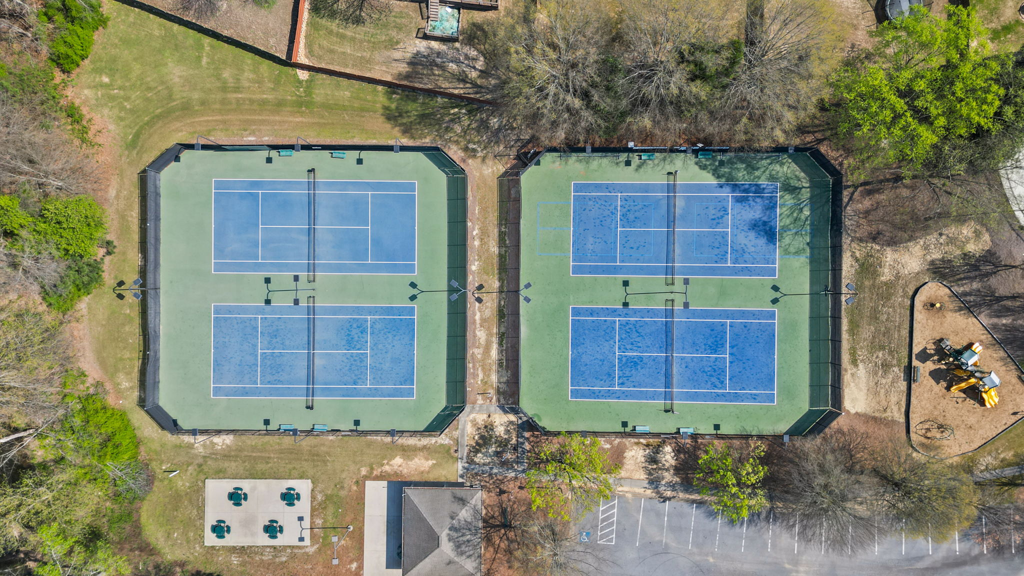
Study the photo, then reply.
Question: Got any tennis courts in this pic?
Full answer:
Yes, you can see a tennis court in this photo.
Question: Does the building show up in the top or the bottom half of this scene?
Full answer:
The building sits in the bottom half of the picture.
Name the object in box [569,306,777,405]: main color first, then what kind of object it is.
blue tennis court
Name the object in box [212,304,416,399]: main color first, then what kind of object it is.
blue tennis court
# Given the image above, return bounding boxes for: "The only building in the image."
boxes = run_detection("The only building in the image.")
[402,483,483,576]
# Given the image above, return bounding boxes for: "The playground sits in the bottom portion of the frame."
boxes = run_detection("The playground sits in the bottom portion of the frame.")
[937,340,1003,407]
